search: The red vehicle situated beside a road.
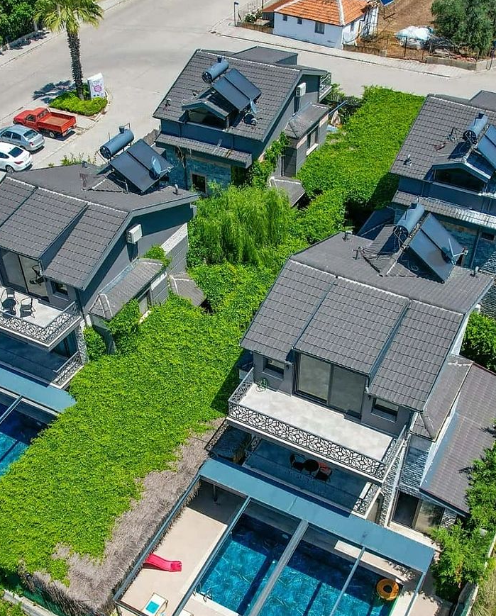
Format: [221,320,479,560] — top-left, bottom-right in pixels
[12,106,73,137]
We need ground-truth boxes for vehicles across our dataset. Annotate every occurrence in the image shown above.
[12,106,73,137]
[0,123,44,152]
[0,144,31,173]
